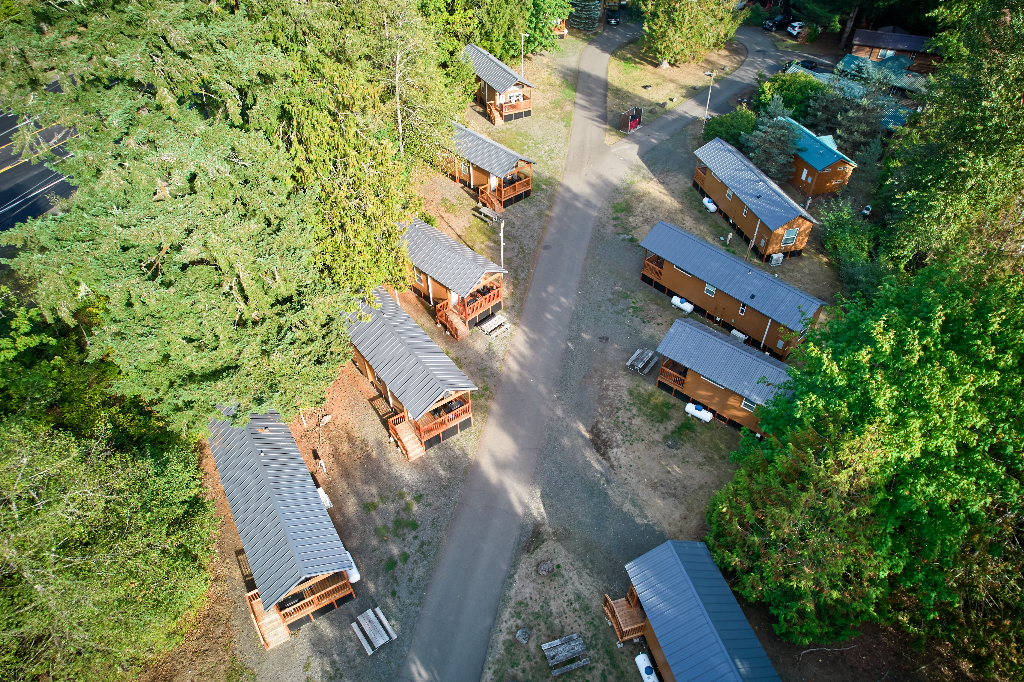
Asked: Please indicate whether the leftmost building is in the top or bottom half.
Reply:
bottom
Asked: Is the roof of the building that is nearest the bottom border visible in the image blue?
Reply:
Yes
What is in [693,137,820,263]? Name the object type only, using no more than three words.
building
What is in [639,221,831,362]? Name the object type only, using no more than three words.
building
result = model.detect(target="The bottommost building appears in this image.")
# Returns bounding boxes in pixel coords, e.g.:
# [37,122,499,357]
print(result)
[601,540,782,682]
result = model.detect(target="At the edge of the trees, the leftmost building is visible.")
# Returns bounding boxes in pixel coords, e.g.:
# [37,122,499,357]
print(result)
[202,392,355,654]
